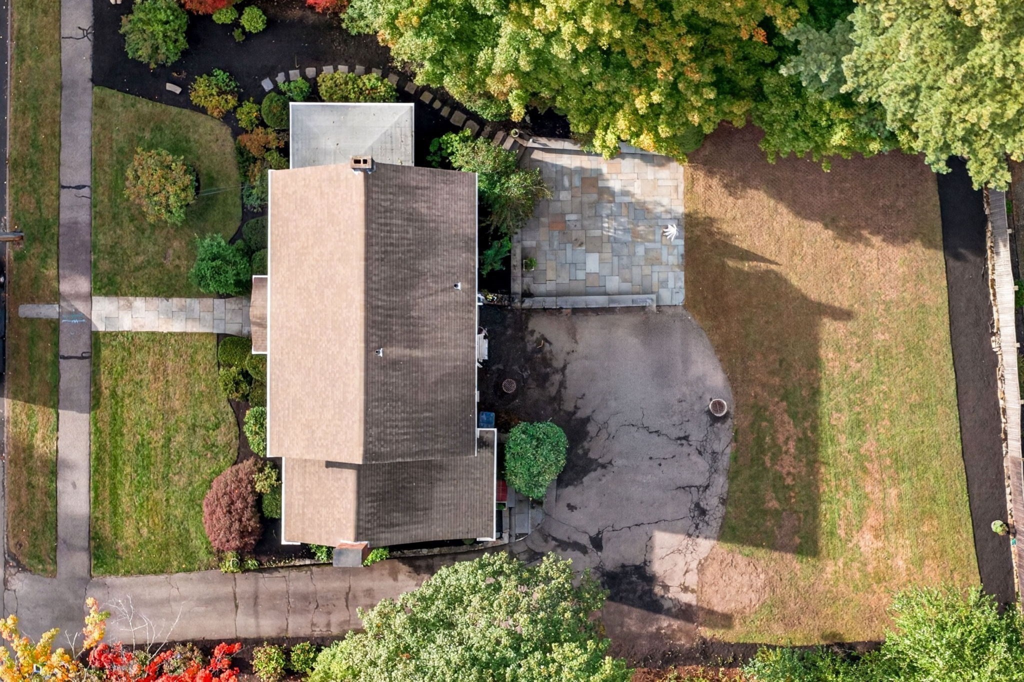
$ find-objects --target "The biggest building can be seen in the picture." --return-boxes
[251,103,496,566]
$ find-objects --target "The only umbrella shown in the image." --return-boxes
[663,225,681,240]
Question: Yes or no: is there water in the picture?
No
